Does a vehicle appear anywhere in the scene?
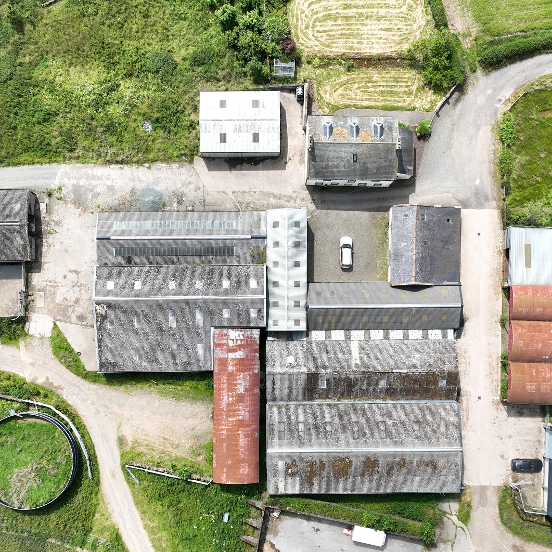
Yes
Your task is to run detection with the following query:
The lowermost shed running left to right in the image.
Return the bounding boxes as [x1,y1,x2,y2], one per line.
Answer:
[266,402,464,495]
